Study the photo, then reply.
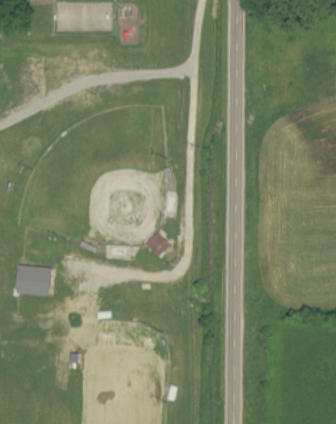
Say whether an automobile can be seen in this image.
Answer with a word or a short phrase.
No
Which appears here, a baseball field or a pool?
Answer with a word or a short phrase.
baseball field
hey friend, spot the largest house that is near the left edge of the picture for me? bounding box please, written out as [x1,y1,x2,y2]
[16,266,52,297]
